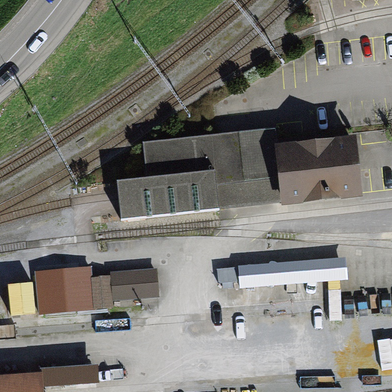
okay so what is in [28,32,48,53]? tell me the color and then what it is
white car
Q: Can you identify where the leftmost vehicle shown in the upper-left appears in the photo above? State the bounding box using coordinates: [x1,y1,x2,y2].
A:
[0,66,20,87]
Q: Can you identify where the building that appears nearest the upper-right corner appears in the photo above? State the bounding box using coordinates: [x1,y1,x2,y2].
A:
[276,134,362,205]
